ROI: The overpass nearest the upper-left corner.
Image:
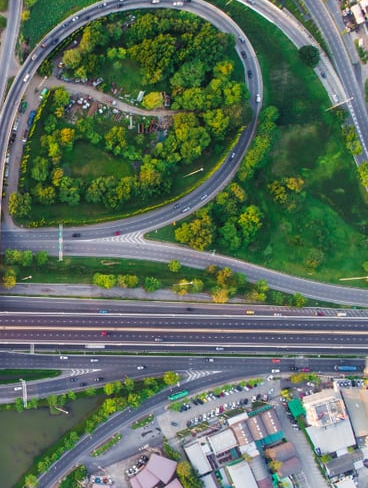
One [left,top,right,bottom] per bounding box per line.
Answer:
[0,0,264,260]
